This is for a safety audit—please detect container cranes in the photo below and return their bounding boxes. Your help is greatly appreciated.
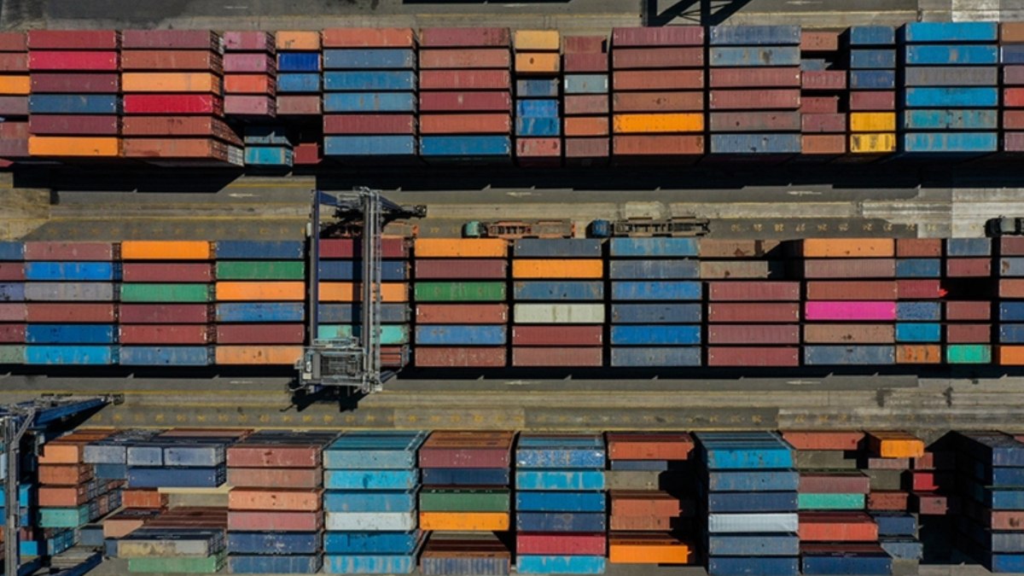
[294,183,430,396]
[0,392,121,576]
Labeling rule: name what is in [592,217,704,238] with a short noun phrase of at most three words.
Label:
truck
